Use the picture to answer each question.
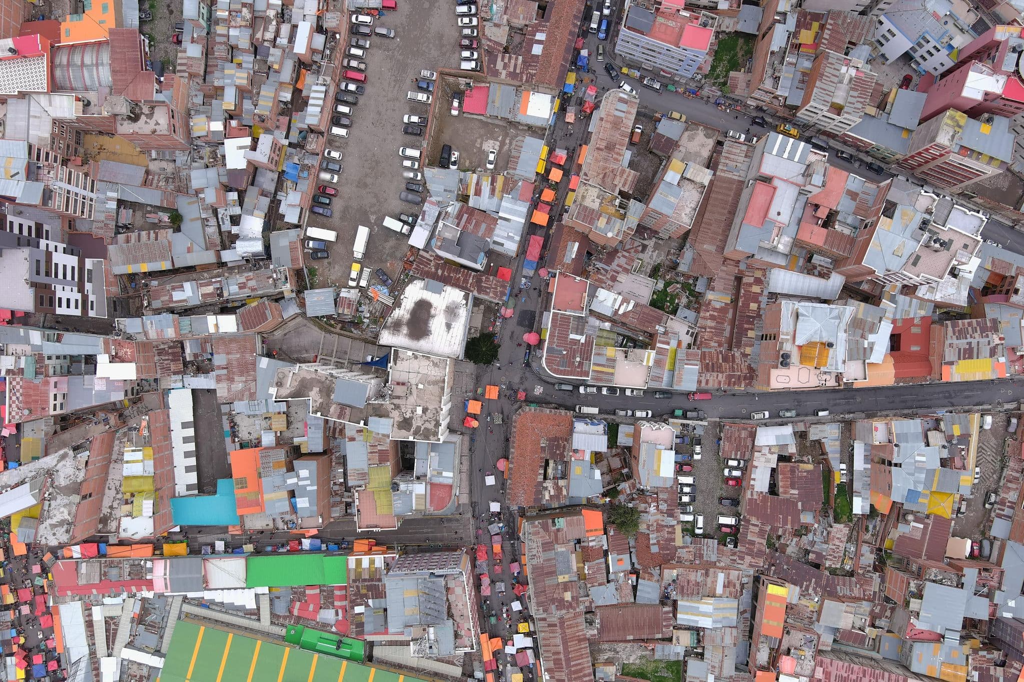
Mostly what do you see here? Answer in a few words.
buildings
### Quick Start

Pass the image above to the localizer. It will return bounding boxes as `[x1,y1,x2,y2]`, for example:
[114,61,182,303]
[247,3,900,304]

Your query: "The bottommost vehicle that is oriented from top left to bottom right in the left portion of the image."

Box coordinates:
[374,267,394,288]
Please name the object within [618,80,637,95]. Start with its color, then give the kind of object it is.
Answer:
white car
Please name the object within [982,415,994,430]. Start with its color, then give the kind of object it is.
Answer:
white vehicle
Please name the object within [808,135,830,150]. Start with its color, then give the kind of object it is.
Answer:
gray vehicle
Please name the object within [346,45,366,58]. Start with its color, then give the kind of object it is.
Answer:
white vehicle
